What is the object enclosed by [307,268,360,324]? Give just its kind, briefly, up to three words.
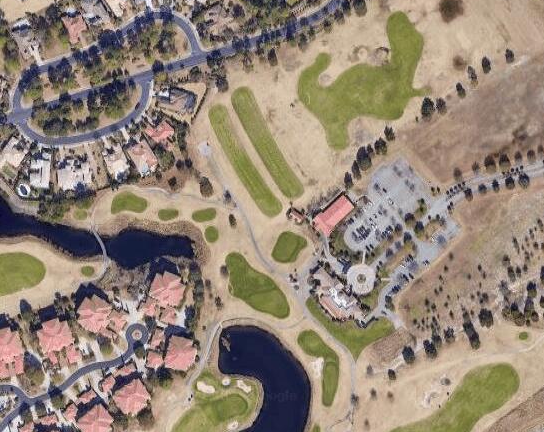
building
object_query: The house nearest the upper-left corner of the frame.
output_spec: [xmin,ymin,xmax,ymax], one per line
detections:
[10,23,40,66]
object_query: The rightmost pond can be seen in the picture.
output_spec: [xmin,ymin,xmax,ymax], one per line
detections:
[218,325,310,432]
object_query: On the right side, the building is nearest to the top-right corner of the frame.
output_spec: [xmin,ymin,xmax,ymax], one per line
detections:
[314,194,352,234]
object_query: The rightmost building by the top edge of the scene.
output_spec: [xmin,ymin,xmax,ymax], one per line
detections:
[204,0,231,34]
